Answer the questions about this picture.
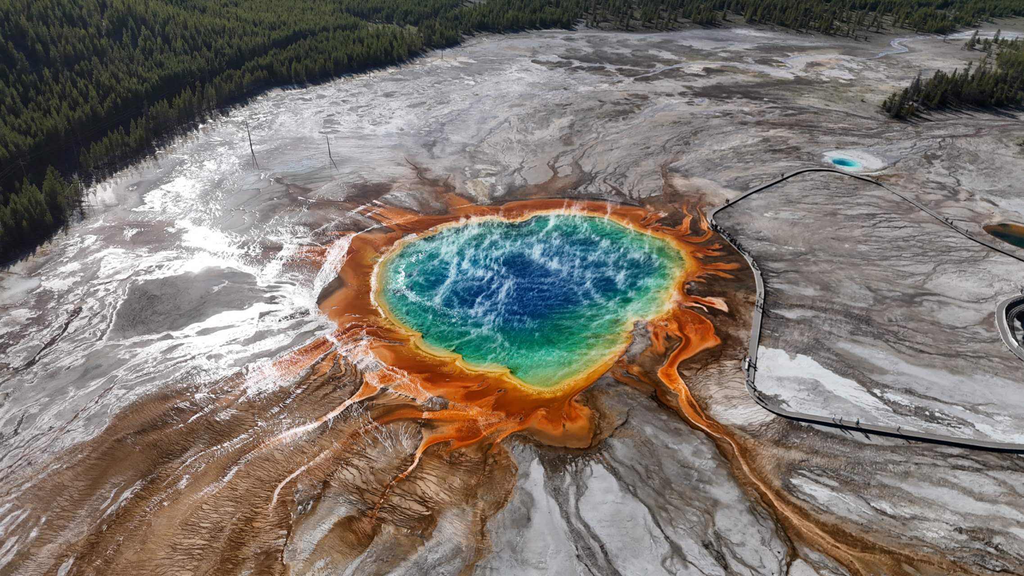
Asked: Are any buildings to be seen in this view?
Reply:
No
